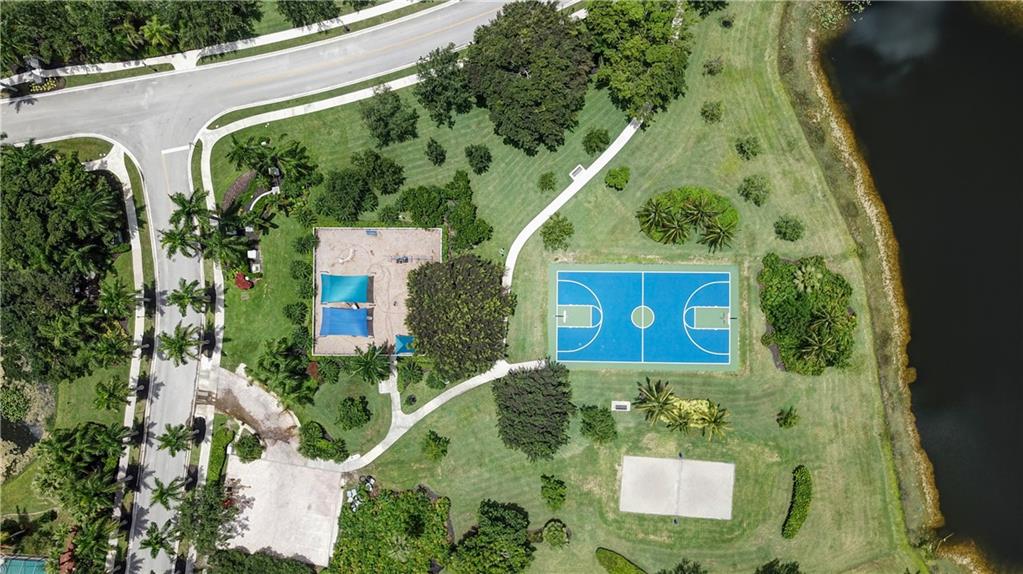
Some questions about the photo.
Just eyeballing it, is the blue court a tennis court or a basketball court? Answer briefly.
basketball court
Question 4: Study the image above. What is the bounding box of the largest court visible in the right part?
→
[549,265,739,369]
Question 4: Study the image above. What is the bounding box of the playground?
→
[312,228,443,356]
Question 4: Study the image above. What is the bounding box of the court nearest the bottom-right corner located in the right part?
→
[619,454,735,526]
